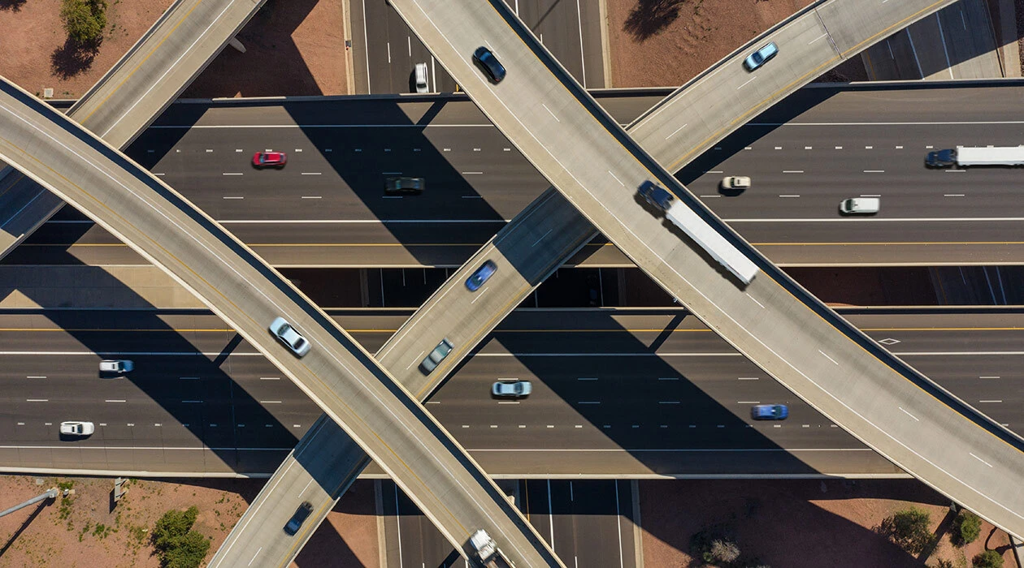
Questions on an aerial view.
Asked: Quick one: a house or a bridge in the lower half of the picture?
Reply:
bridge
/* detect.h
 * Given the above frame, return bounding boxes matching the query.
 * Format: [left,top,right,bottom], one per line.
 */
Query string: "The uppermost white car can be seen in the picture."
[415,62,429,93]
